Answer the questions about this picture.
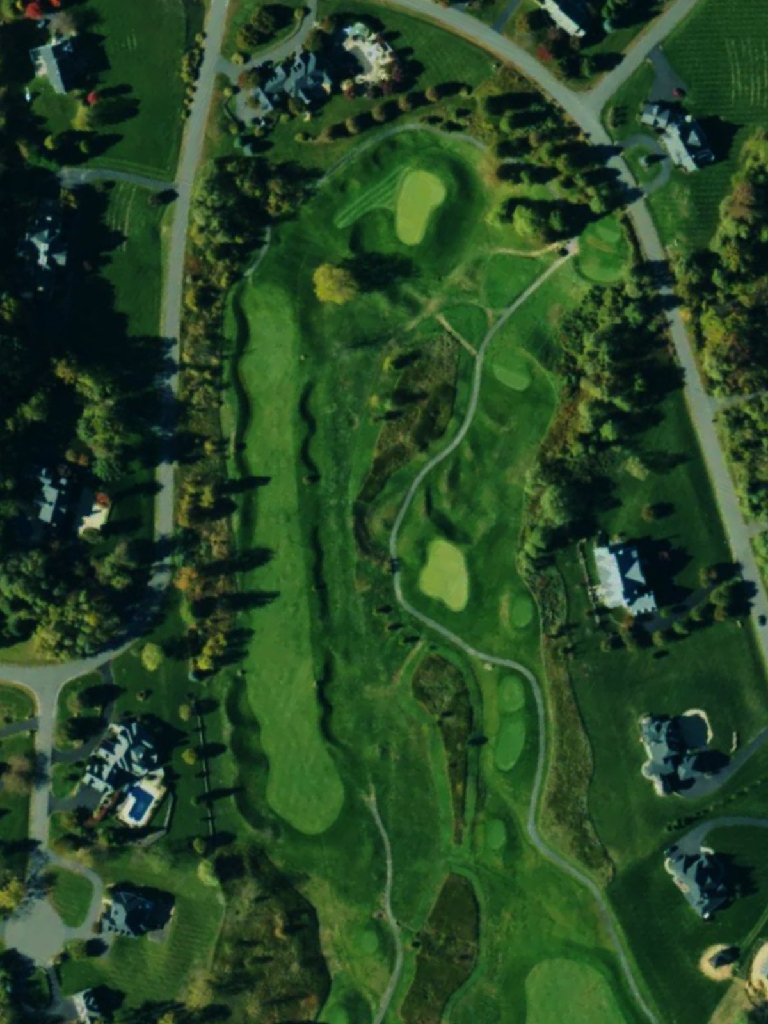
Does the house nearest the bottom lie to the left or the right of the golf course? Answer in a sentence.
Relative to the golf course, the house nearest the bottom is on the left.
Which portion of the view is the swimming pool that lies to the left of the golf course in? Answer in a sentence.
Look in the bottom left portion of the view to spot the swimming pool that lies to the left of the golf course.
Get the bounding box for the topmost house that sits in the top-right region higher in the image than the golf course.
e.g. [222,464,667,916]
[542,0,590,36]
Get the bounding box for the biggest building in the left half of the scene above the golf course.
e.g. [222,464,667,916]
[253,52,331,113]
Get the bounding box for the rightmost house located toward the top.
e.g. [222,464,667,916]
[641,104,715,176]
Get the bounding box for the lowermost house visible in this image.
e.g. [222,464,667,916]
[74,991,103,1024]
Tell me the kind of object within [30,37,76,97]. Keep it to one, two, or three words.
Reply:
house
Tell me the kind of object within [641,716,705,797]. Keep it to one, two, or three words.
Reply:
house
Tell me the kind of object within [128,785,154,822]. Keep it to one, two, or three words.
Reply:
swimming pool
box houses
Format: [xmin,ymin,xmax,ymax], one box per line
[253,52,331,113]
[641,104,715,176]
[36,472,70,526]
[641,716,705,797]
[102,890,161,938]
[74,991,103,1024]
[594,544,658,618]
[82,724,155,793]
[675,854,732,919]
[542,0,590,36]
[30,37,76,97]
